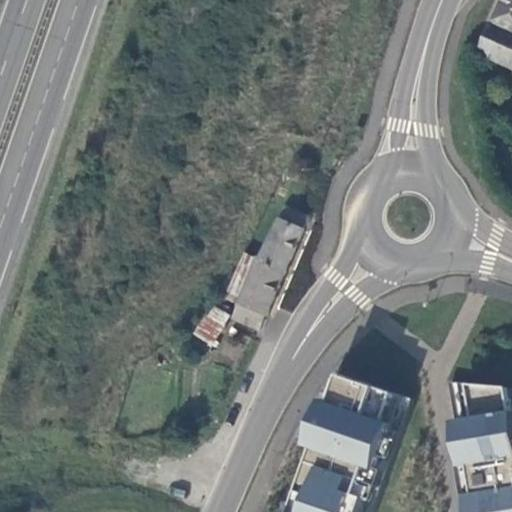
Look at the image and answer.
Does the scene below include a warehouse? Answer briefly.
No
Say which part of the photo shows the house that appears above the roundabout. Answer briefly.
top right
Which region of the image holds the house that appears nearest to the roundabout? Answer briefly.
center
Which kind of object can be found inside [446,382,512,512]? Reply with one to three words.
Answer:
building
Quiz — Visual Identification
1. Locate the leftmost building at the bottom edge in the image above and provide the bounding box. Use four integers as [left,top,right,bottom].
[282,372,416,512]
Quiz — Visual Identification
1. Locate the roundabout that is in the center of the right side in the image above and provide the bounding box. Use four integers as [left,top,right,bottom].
[324,117,508,311]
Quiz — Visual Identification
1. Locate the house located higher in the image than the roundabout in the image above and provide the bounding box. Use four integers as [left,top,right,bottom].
[478,27,512,70]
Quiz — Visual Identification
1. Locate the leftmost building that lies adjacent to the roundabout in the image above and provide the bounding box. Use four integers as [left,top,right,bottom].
[225,208,318,332]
